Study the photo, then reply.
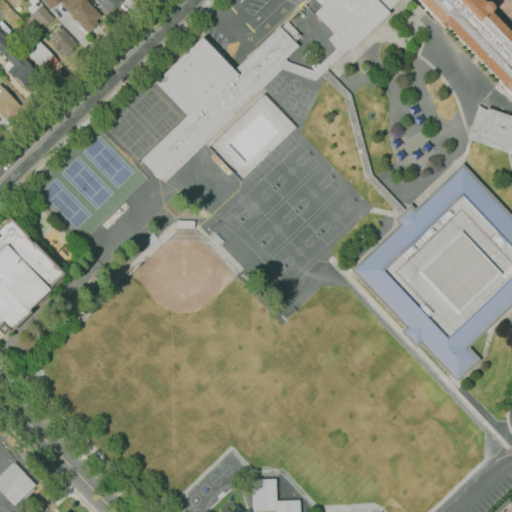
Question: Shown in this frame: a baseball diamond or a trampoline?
baseball diamond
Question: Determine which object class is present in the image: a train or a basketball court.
basketball court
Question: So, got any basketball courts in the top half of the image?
Yes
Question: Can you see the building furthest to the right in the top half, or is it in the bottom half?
top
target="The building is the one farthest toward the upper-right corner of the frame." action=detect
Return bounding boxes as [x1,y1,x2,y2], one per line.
[422,0,512,90]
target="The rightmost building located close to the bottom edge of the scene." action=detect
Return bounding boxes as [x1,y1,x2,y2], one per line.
[252,479,301,512]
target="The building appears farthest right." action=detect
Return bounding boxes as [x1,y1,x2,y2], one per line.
[472,100,512,153]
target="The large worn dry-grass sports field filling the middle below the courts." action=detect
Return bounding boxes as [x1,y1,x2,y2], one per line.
[33,272,485,512]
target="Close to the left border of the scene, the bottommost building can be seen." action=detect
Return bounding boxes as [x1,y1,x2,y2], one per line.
[0,462,36,507]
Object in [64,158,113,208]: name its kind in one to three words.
tennis court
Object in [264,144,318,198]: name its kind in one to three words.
basketball court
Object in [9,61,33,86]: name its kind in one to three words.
house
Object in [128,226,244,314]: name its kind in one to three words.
baseball field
